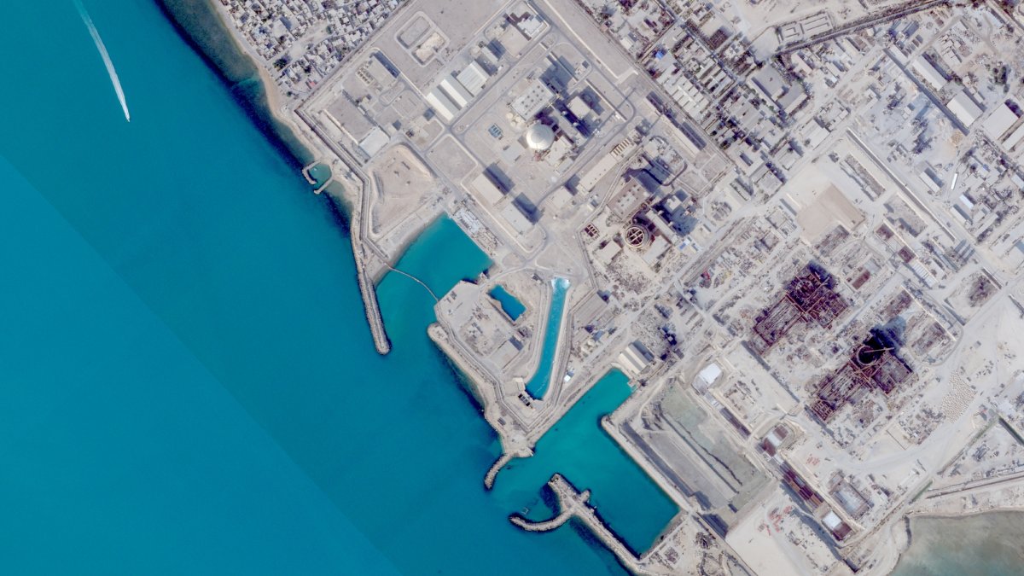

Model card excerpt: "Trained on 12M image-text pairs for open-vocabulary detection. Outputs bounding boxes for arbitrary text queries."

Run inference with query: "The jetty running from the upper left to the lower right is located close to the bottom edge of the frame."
[548,473,646,576]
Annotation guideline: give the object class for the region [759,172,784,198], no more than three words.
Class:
shed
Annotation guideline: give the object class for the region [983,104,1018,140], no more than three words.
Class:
building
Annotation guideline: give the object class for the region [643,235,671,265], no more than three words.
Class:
building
